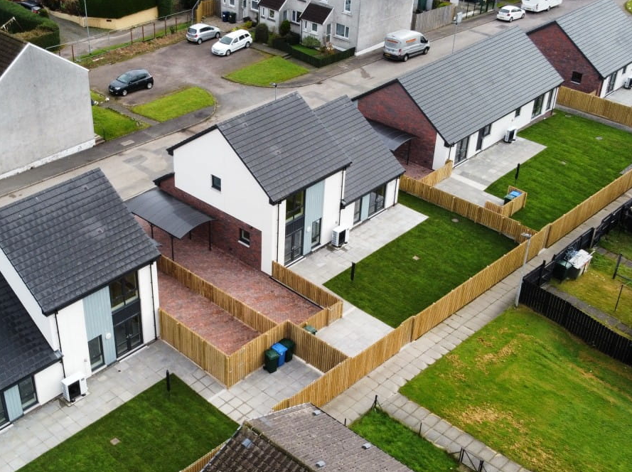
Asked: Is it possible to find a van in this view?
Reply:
Yes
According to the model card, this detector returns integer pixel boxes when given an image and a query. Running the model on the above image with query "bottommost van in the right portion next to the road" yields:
[383,28,431,62]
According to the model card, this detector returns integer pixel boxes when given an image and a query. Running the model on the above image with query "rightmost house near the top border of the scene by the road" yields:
[523,0,632,100]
